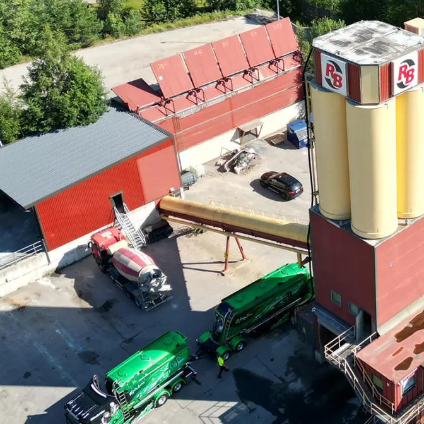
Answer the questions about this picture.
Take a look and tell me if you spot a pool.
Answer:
No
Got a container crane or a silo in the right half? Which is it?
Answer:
silo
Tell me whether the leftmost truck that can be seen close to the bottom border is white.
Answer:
No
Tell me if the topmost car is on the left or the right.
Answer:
right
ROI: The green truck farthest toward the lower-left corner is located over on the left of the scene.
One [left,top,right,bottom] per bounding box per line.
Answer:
[49,317,196,424]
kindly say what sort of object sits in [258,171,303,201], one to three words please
car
